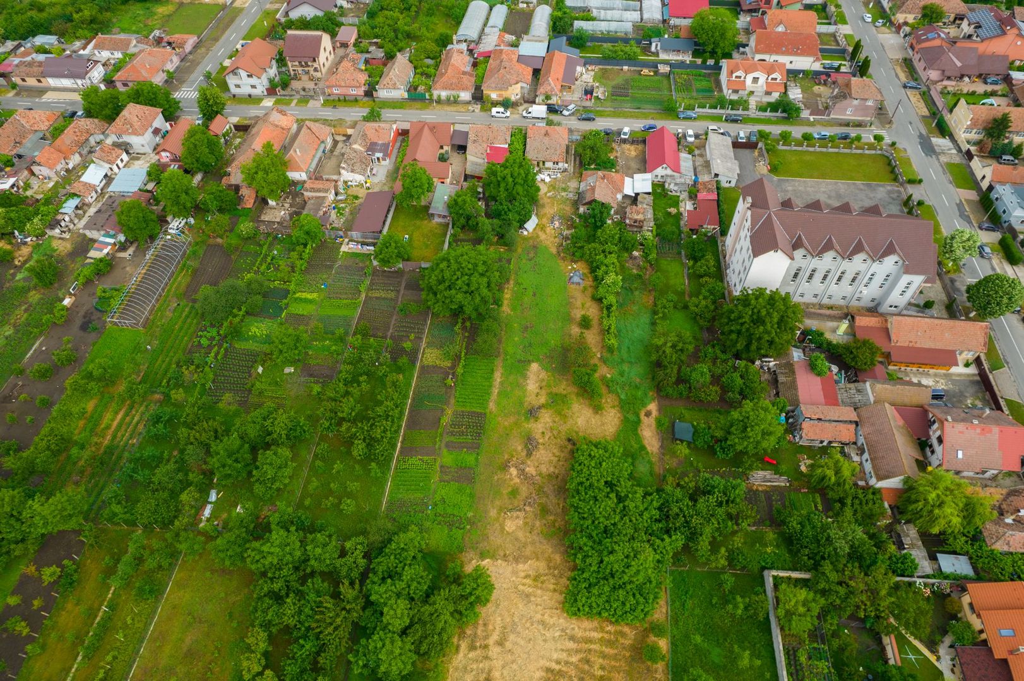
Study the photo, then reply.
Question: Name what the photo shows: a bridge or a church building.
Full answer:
I can see a church building in this picture.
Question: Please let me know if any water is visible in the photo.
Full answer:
No, there is no water in the image.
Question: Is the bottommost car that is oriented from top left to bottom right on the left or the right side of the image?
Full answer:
The bottommost car that is oriented from top left to bottom right sits on the right side.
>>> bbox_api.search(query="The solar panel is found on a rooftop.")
[967,8,1007,39]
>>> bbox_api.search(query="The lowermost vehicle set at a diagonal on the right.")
[927,378,952,401]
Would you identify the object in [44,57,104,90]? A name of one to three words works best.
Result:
house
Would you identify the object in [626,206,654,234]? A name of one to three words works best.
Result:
shed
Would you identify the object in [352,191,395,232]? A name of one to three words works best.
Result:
barn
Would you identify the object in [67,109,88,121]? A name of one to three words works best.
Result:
vehicle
